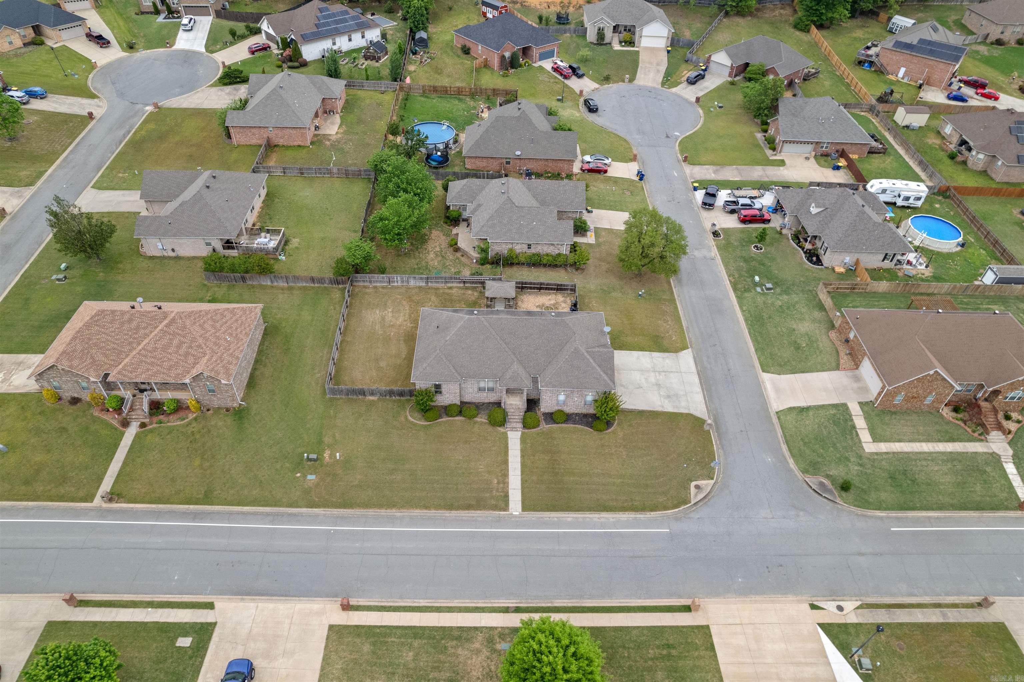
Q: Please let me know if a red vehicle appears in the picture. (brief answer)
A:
Yes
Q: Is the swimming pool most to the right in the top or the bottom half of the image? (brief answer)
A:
top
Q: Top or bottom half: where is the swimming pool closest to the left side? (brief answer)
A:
top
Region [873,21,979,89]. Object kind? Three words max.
house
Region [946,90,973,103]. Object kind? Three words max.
vehicle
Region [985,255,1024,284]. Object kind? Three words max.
shed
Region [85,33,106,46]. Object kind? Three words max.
vehicle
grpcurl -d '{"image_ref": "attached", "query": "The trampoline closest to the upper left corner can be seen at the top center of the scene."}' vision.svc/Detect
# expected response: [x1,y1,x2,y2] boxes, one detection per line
[423,146,450,168]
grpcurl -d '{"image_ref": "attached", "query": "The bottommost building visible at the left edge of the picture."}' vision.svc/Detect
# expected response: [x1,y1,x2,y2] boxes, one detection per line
[26,296,271,421]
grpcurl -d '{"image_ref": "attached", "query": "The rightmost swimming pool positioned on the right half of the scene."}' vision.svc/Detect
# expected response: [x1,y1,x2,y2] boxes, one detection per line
[902,215,965,250]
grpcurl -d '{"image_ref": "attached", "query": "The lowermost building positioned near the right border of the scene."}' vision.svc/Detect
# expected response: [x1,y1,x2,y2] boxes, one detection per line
[836,306,1024,434]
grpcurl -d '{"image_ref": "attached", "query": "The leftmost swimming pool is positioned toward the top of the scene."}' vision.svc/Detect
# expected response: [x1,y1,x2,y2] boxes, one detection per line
[411,119,455,151]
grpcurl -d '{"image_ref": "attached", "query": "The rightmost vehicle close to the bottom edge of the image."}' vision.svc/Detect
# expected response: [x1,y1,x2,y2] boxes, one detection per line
[211,654,252,682]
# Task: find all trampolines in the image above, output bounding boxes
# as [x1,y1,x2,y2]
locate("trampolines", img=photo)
[423,146,450,168]
[555,10,571,23]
